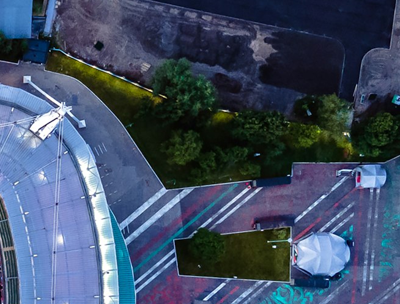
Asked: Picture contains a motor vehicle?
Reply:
No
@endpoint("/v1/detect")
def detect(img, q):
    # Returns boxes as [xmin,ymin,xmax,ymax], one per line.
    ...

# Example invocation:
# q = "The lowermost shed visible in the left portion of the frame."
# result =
[21,40,49,67]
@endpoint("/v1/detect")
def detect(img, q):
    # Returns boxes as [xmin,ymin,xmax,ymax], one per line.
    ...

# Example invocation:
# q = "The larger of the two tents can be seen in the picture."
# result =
[290,231,353,278]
